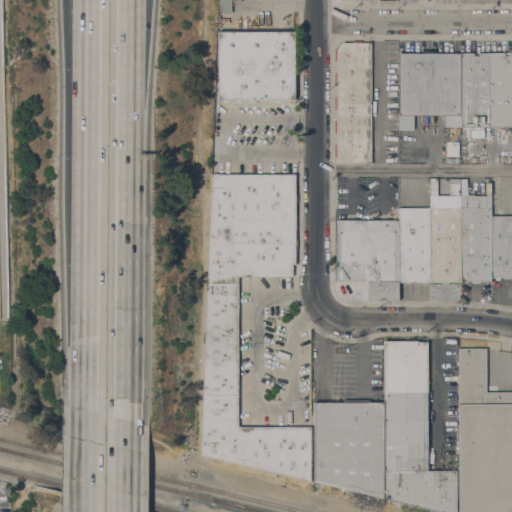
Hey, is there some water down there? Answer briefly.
No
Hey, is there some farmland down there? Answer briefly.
No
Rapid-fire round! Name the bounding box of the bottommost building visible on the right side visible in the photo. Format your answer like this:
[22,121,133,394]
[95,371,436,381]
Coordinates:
[386,471,458,512]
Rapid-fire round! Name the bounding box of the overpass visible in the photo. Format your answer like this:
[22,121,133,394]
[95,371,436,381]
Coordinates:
[62,398,150,512]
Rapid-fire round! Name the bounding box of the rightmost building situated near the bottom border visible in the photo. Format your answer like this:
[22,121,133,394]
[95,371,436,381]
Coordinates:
[459,404,512,512]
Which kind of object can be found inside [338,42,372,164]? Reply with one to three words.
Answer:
building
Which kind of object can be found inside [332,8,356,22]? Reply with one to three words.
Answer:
vehicle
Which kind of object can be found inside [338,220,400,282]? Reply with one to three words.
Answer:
building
